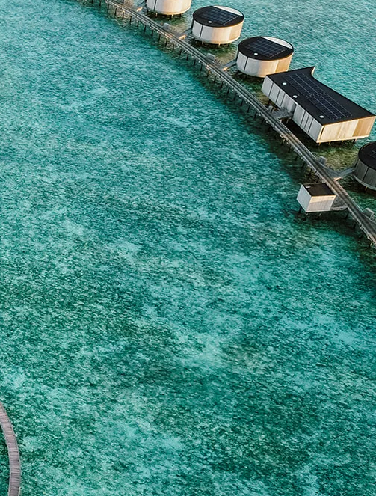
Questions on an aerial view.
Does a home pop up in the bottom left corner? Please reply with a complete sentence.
No, no home is visible in the bottom left corner.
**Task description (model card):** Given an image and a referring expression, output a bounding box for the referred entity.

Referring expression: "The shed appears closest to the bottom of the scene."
[293,182,334,228]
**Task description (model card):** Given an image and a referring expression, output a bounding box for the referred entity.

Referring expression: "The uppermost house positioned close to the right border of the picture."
[259,64,375,154]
